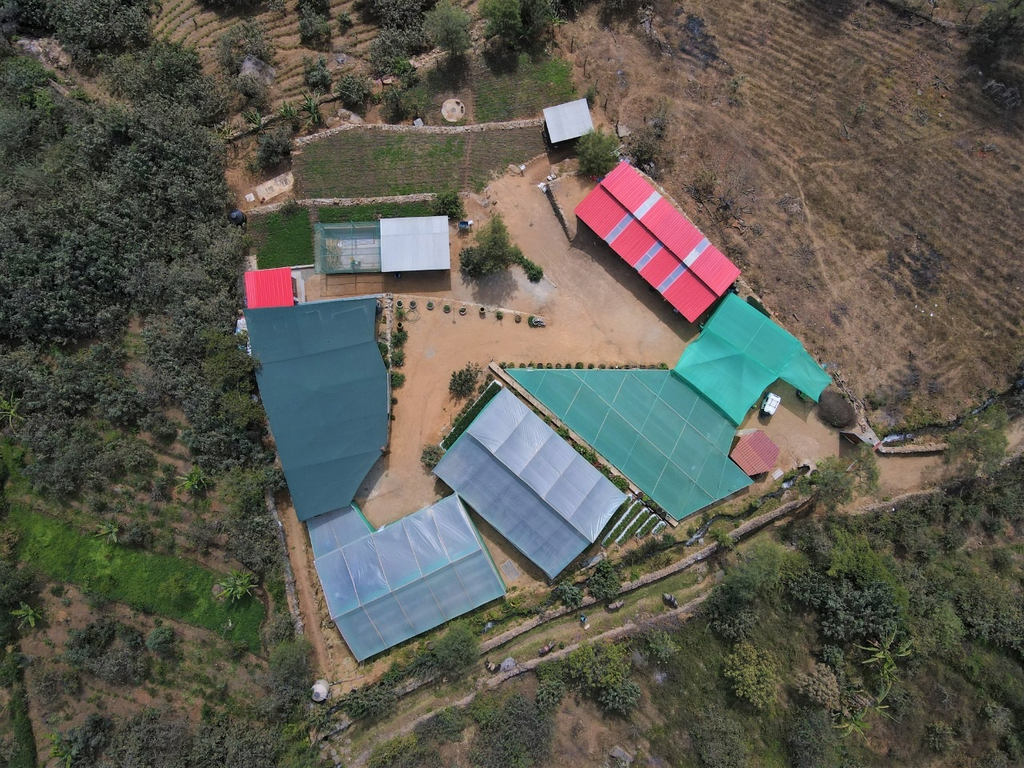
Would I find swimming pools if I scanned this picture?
No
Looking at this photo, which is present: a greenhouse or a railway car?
greenhouse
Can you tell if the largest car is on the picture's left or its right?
right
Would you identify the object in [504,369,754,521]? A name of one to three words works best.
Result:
house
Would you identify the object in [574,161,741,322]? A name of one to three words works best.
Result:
barn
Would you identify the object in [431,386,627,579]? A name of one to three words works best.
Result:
greenhouse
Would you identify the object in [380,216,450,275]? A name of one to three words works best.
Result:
shed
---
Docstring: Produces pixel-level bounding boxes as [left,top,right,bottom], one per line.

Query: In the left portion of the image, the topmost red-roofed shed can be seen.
[245,268,299,309]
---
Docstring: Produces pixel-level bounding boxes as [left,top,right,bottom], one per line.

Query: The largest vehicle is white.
[755,389,783,420]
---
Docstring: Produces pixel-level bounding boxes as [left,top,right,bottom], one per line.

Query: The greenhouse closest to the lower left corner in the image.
[307,490,506,662]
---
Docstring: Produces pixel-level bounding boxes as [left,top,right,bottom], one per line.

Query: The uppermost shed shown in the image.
[543,98,594,152]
